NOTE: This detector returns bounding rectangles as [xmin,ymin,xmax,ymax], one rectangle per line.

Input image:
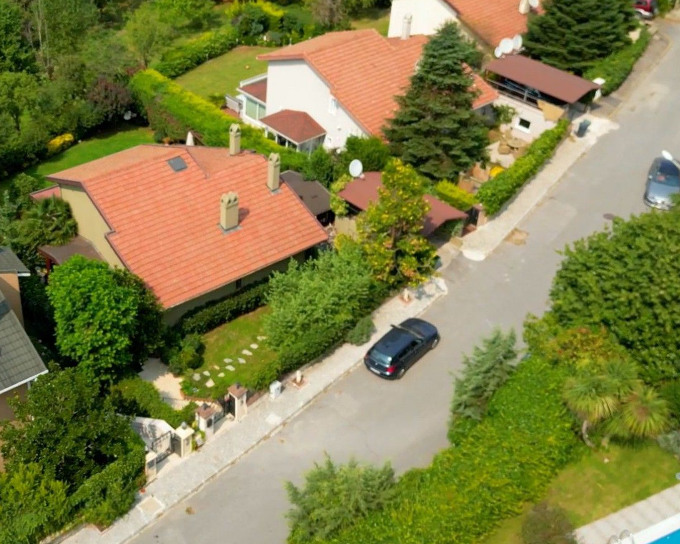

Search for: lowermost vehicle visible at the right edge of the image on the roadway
[640,152,680,201]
